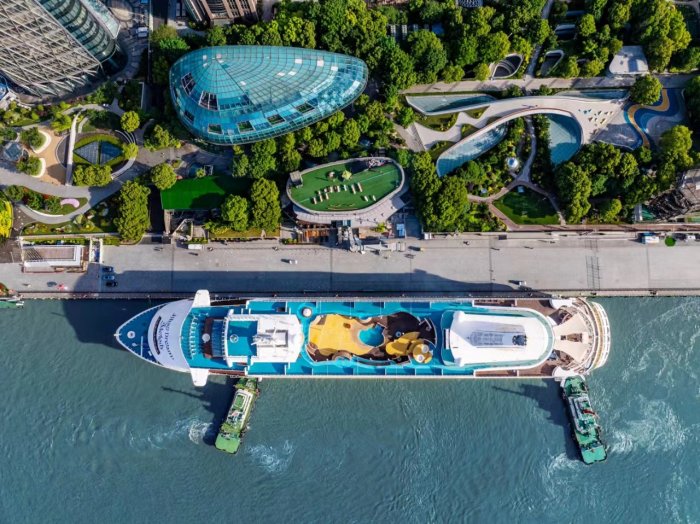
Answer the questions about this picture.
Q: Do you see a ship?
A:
Yes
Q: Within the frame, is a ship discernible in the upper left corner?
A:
No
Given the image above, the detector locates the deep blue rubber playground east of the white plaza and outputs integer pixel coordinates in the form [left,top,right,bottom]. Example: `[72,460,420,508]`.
[621,86,699,154]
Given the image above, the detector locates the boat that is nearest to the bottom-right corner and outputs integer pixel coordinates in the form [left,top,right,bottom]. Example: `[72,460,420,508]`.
[563,376,608,466]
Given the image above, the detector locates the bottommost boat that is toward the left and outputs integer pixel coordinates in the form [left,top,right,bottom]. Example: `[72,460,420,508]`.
[216,378,265,455]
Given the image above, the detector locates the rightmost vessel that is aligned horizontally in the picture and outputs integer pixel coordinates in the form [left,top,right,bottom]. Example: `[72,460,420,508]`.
[107,290,611,386]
